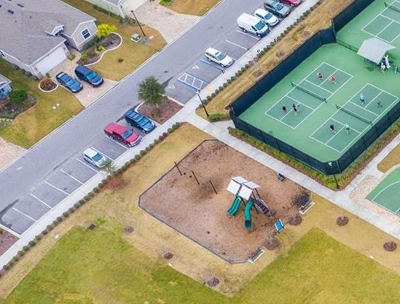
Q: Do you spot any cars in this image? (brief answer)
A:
Yes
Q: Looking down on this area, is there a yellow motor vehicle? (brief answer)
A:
No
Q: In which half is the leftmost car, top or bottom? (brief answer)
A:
top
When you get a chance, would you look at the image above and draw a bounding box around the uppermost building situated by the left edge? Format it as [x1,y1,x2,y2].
[0,0,102,77]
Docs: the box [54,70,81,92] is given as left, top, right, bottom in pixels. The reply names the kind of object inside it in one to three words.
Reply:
car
